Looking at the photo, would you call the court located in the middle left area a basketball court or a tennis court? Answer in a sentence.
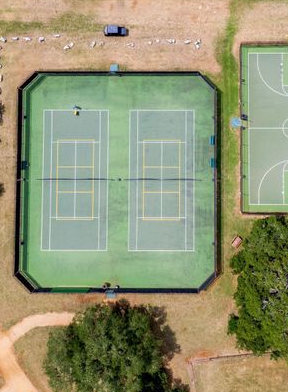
The court located in the middle left area appears to be a tennis court.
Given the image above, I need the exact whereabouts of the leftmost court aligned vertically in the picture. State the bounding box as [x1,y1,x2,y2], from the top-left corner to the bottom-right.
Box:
[41,109,109,251]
